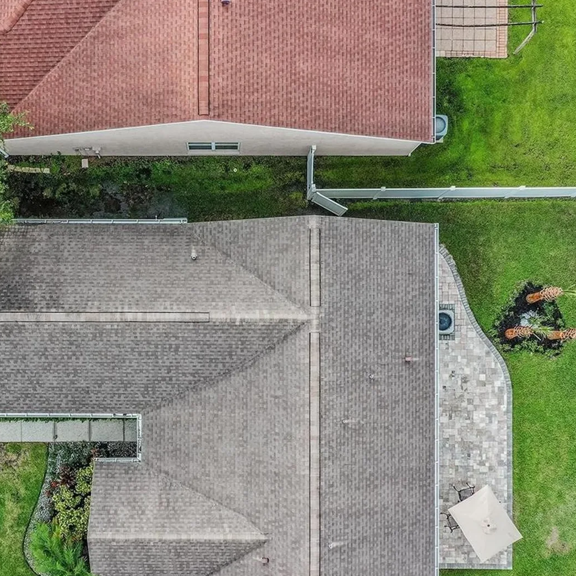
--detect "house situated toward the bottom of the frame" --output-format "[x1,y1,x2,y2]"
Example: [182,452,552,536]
[0,213,440,576]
